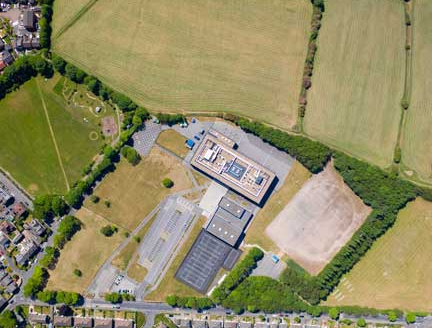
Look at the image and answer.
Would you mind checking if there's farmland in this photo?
Yes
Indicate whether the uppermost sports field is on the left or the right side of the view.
left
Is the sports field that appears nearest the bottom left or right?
right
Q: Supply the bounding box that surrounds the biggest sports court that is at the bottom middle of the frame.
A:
[174,228,234,294]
